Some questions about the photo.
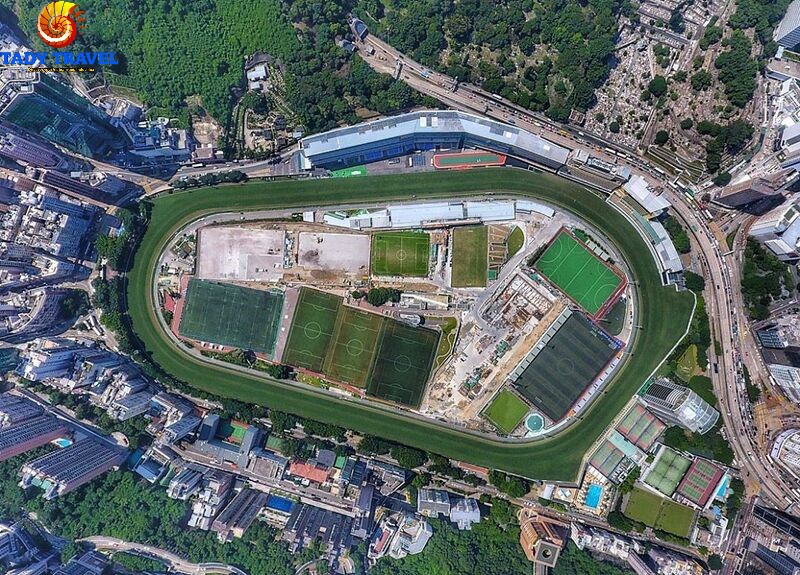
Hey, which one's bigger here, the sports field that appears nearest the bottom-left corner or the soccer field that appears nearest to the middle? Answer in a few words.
the sports field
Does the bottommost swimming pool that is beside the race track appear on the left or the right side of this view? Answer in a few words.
right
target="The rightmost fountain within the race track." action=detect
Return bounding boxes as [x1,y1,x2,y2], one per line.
[525,412,545,433]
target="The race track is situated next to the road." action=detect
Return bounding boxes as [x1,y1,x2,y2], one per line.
[125,167,695,485]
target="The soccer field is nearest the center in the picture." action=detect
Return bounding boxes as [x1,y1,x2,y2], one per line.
[370,231,431,277]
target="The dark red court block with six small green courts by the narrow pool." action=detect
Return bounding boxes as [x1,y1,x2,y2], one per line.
[677,459,727,508]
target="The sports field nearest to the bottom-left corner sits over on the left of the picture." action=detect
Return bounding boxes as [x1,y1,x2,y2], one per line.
[180,279,283,354]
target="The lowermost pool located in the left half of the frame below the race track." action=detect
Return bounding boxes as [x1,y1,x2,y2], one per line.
[265,495,293,514]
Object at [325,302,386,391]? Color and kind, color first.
green soccer field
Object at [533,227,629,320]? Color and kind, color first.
green sports field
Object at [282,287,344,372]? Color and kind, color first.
green soccer field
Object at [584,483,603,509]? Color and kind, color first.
blue swimming pool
